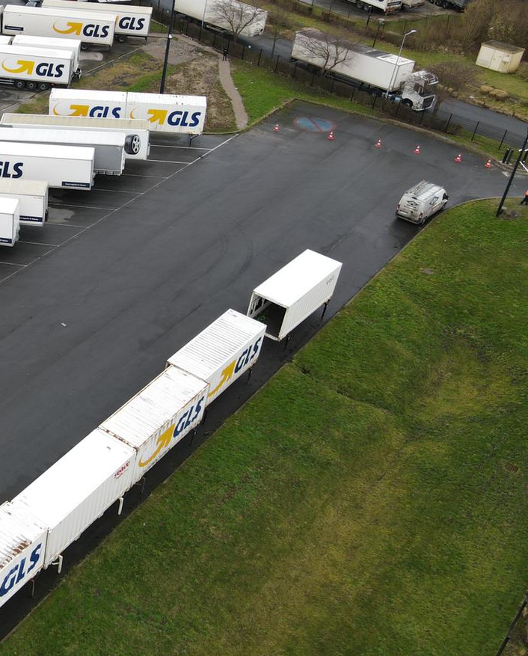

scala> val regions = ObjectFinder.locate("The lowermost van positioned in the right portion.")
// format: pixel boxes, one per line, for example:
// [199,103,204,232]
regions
[401,180,449,219]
